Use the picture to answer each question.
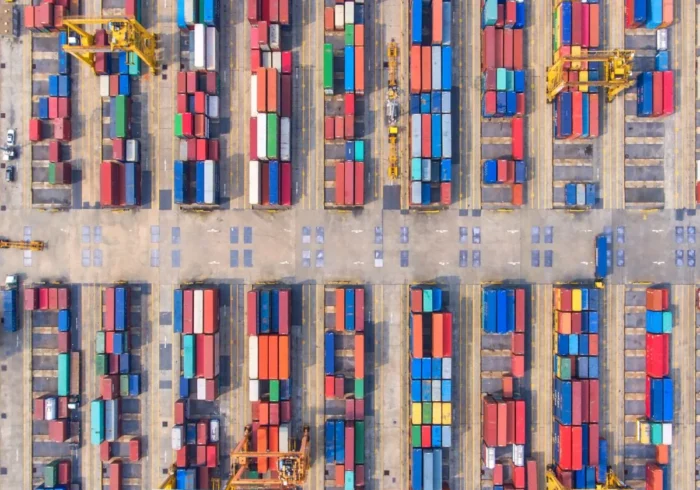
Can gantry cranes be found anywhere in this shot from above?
Yes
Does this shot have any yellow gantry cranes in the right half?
Yes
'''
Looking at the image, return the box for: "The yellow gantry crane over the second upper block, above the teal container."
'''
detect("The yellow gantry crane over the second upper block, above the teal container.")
[62,14,157,76]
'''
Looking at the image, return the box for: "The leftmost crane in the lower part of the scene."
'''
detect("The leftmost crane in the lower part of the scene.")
[150,462,237,490]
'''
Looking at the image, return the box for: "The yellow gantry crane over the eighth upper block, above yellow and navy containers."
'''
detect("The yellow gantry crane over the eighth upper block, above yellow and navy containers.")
[546,44,644,105]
